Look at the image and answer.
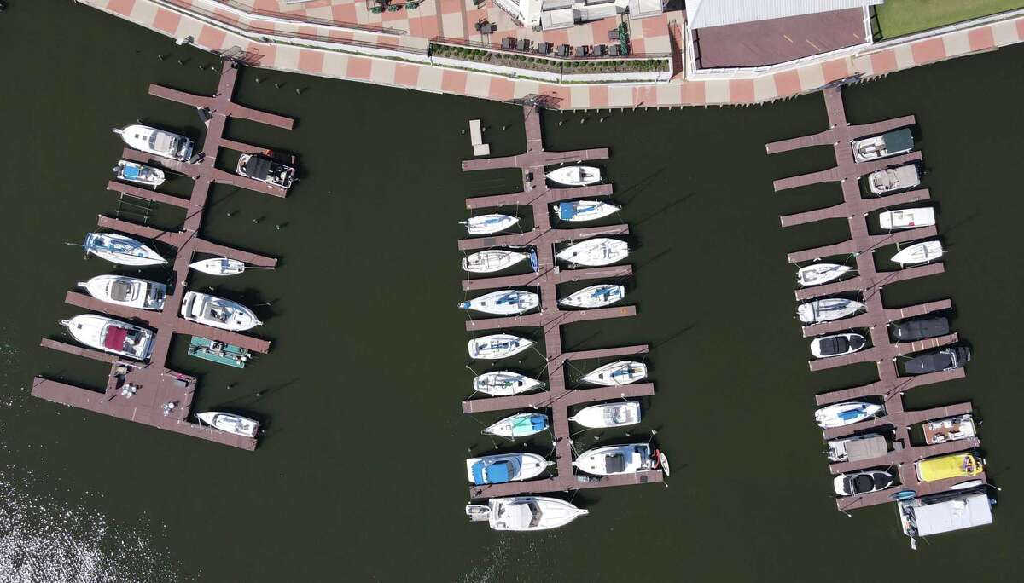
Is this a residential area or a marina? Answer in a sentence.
The picture captures a marina.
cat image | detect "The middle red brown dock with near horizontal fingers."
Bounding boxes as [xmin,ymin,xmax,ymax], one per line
[458,107,663,498]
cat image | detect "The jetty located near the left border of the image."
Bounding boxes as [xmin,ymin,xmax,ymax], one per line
[32,63,297,451]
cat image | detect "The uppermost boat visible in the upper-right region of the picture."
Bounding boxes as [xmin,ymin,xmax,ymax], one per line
[851,127,915,163]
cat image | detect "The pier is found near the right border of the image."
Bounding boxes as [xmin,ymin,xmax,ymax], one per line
[764,86,987,512]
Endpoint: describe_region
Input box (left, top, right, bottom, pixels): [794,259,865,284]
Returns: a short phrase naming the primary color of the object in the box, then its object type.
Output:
white boat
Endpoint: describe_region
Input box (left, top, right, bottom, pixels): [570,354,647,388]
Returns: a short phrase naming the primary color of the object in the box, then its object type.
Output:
white boat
